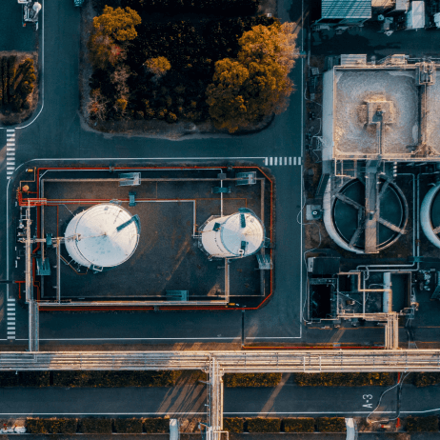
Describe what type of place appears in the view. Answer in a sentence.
The picture captures an industrial area.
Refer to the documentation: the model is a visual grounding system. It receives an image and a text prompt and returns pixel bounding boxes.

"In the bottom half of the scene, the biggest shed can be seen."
[308,257,341,275]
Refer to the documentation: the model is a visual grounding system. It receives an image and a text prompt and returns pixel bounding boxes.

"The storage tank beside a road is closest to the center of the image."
[200,205,266,262]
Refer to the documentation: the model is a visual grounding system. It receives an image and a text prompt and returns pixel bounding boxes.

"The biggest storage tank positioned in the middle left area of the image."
[63,202,142,272]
